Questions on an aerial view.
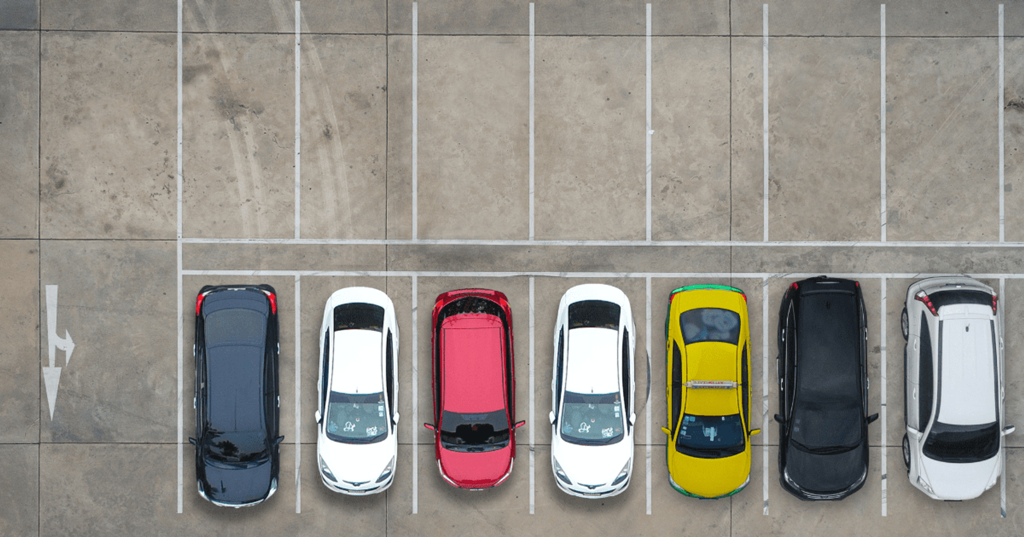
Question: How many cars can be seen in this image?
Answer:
7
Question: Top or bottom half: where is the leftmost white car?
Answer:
bottom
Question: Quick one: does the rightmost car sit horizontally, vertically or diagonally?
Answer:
vertically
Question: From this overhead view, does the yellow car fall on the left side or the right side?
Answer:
right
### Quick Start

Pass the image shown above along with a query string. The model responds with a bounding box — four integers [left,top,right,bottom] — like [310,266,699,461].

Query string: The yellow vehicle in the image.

[658,283,761,501]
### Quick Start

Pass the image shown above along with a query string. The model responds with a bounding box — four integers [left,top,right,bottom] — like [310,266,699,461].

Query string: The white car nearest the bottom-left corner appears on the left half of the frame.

[313,285,404,495]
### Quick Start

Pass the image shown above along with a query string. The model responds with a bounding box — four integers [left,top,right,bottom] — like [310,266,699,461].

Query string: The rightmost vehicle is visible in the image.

[904,275,1020,502]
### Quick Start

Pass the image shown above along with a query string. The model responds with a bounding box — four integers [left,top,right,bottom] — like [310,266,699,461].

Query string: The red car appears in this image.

[423,287,527,491]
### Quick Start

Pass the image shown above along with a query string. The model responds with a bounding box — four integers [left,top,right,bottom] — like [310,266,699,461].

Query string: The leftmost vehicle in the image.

[188,282,288,510]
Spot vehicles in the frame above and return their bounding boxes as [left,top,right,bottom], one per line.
[658,283,761,501]
[313,285,404,495]
[423,287,527,491]
[904,275,1020,502]
[772,274,880,501]
[546,283,640,499]
[188,282,288,510]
